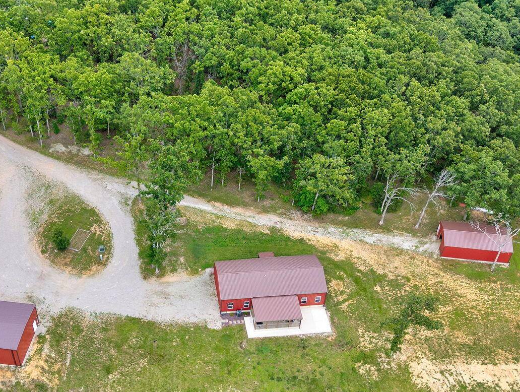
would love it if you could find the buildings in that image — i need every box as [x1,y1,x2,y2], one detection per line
[438,222,514,264]
[215,252,328,331]
[0,300,40,366]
